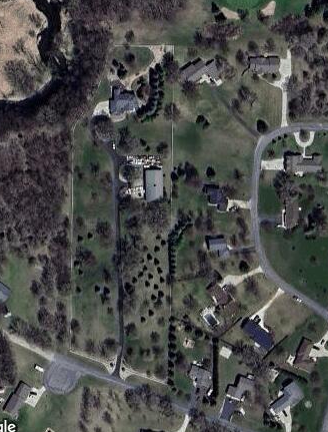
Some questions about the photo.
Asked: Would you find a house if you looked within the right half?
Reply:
Yes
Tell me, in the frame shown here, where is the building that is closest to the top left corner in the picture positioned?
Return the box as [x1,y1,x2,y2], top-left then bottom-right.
[108,86,139,114]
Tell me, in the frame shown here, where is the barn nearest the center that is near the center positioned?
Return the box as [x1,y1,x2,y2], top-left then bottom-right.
[145,169,163,201]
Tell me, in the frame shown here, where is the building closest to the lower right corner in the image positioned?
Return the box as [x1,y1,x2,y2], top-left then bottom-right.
[270,381,306,413]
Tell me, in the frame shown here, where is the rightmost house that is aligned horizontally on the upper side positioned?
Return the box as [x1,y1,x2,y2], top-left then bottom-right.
[287,156,322,173]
